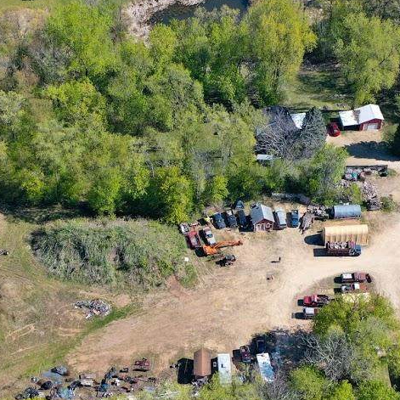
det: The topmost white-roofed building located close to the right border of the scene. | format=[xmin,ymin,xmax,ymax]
[340,104,387,129]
